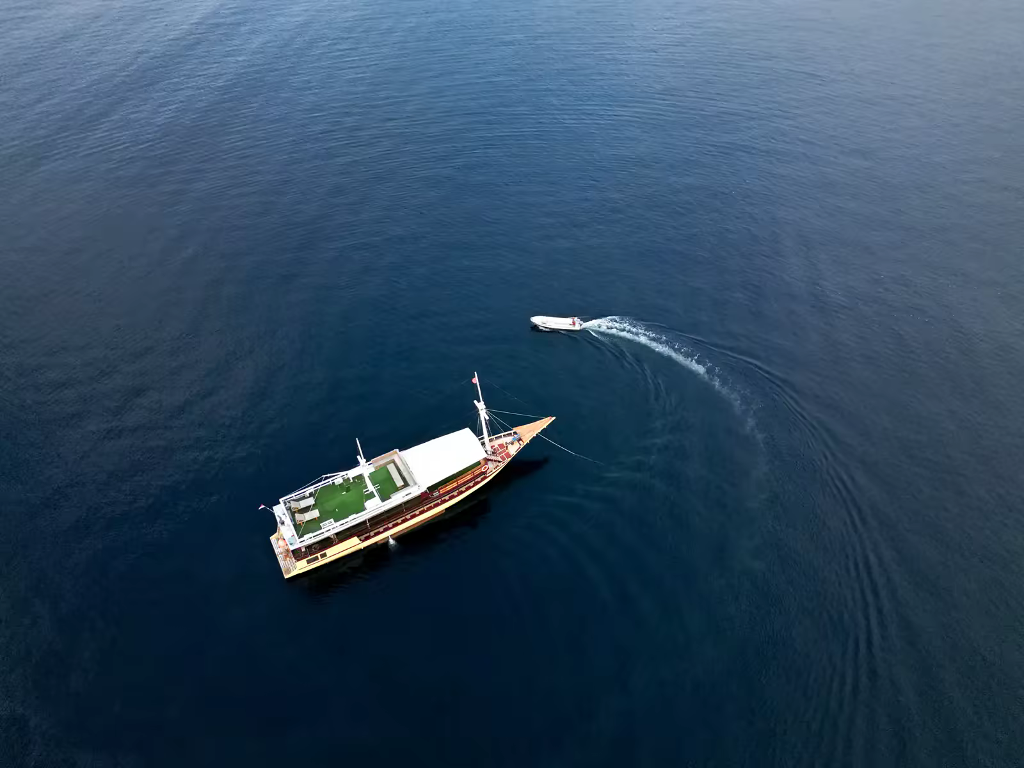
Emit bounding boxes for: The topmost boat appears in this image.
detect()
[531,315,586,330]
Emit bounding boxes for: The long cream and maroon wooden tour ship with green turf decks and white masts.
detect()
[269,372,556,579]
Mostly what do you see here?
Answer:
water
